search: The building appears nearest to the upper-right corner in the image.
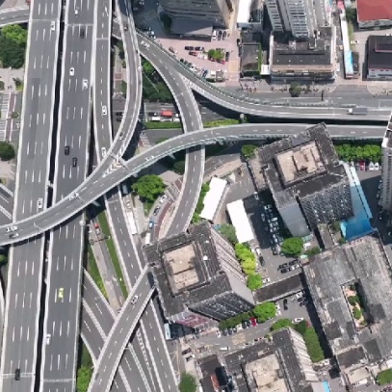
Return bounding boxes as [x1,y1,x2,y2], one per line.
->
[355,0,392,28]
